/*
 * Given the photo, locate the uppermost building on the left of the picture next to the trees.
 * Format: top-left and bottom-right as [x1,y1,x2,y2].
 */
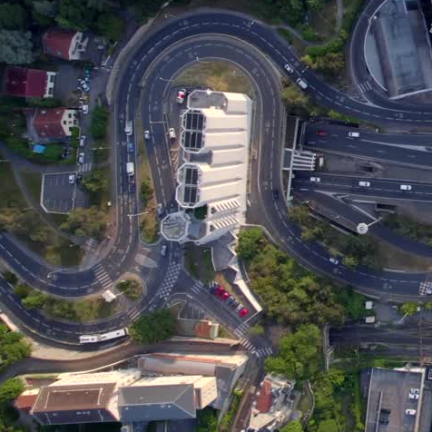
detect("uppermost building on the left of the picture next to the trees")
[44,28,88,60]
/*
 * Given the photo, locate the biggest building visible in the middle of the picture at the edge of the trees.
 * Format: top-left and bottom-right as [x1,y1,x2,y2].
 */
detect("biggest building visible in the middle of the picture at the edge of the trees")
[161,90,253,270]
